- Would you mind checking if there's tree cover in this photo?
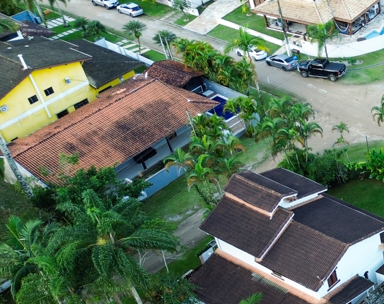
Yes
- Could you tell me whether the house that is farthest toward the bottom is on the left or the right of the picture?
right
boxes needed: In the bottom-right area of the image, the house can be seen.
[189,166,384,304]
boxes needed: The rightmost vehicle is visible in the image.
[295,58,348,81]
